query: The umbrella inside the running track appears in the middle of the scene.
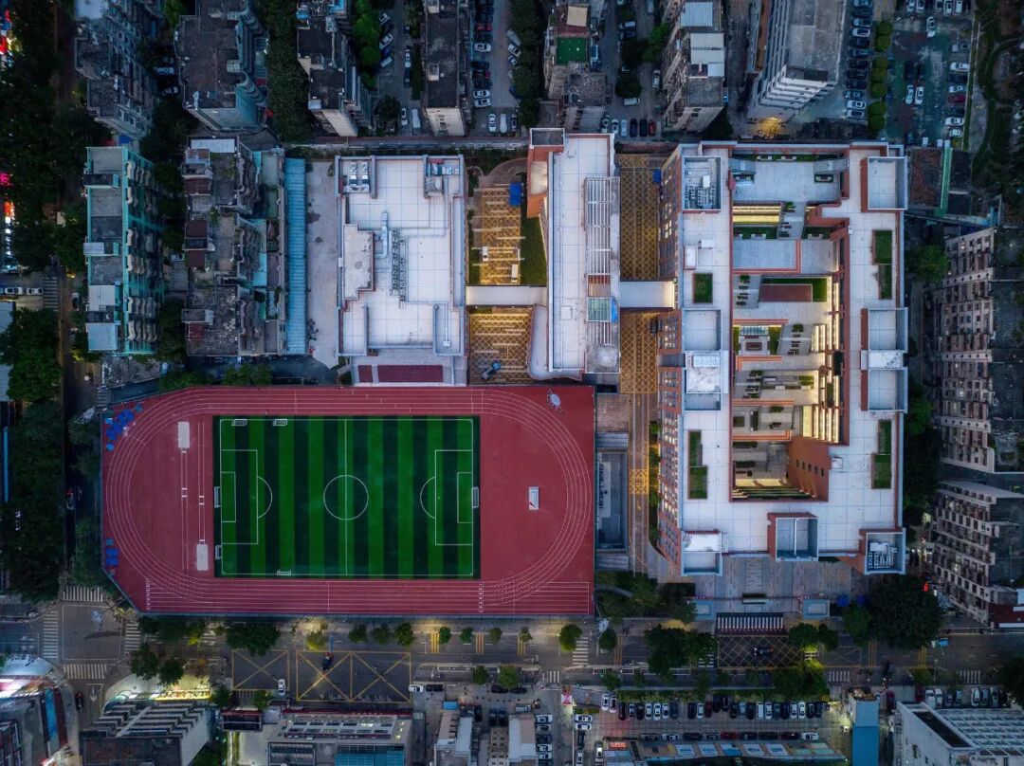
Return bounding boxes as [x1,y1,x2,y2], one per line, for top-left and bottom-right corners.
[545,390,565,409]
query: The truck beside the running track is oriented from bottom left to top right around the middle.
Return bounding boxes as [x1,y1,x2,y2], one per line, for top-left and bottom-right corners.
[476,357,502,382]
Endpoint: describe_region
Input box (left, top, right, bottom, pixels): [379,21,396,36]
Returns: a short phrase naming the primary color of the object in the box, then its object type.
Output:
black car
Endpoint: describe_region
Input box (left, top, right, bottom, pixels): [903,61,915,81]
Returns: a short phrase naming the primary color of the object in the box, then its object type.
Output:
black vehicle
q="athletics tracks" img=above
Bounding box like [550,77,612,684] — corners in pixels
[101,384,596,615]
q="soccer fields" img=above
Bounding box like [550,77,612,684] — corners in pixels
[212,416,480,579]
